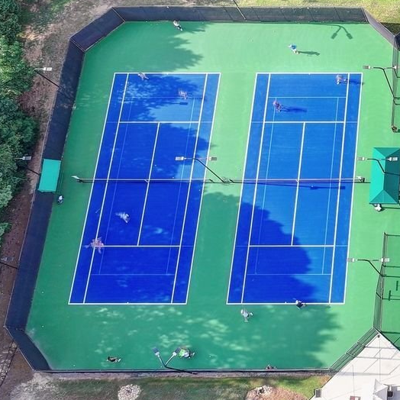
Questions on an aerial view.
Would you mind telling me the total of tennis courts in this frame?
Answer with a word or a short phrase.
two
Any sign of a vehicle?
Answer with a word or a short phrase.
No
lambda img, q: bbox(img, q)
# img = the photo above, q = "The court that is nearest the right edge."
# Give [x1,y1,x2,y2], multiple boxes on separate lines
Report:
[227,74,362,304]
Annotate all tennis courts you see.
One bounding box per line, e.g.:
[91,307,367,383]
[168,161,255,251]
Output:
[69,74,219,304]
[227,74,362,304]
